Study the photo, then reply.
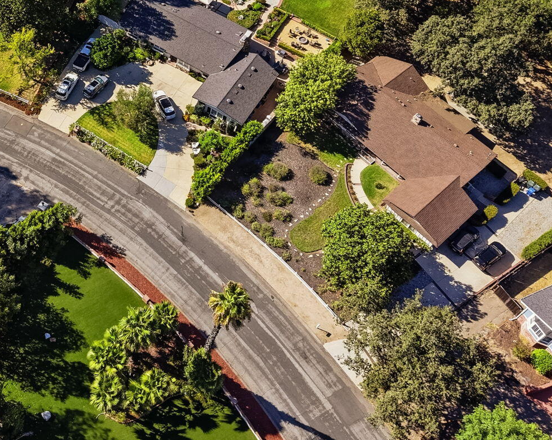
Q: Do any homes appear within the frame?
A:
Yes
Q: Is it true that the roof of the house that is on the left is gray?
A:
Yes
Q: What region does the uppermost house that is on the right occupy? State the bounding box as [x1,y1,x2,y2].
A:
[337,58,498,253]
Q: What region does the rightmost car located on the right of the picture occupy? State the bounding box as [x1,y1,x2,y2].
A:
[470,236,512,273]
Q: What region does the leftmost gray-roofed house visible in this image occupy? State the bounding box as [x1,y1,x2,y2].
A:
[120,0,279,134]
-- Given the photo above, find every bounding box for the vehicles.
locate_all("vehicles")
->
[151,86,180,122]
[79,68,112,103]
[70,34,97,72]
[53,68,79,103]
[470,236,512,273]
[445,224,487,262]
